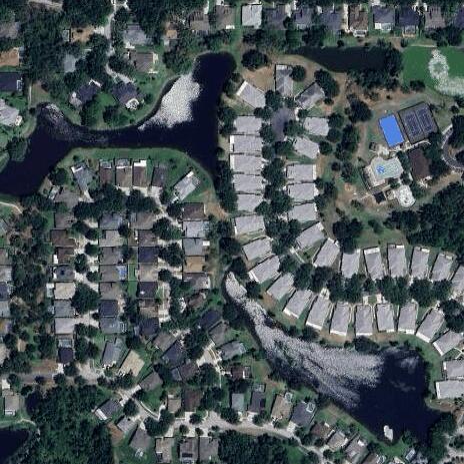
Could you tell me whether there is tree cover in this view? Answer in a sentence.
Yes, the picture does contain tree cover.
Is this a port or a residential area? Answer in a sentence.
This image shows a residential area.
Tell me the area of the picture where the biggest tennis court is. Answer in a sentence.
The biggest tennis court appears toward the top right of the photo.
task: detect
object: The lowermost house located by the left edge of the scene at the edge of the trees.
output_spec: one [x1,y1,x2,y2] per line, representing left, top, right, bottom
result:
[2,392,20,414]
